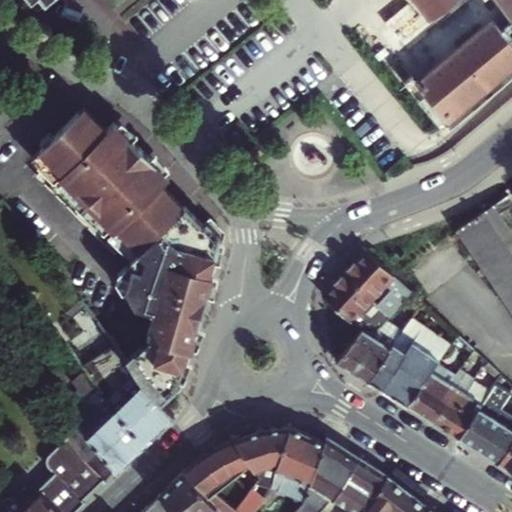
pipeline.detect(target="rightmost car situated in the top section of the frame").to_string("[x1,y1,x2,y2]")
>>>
[420,174,446,190]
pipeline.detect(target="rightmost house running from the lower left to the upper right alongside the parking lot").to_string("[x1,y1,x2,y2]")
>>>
[420,6,512,127]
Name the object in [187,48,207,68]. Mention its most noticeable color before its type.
gray car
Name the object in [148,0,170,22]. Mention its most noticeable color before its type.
gray car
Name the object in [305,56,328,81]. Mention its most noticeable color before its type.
white car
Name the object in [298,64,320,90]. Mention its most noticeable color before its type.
white car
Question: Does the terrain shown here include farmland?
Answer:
No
